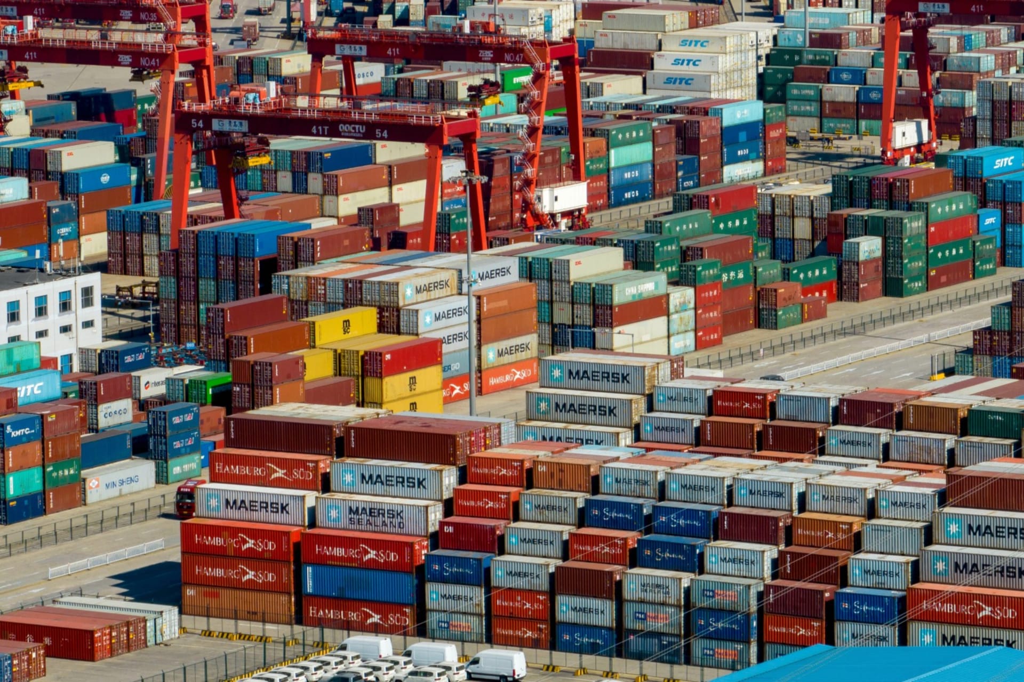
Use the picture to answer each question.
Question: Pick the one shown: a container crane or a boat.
container crane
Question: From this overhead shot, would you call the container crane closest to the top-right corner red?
Yes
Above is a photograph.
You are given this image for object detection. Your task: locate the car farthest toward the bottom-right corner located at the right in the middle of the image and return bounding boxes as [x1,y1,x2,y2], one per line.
[756,367,789,382]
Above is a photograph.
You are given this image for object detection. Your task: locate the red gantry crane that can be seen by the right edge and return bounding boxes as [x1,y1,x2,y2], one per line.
[873,0,1024,164]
